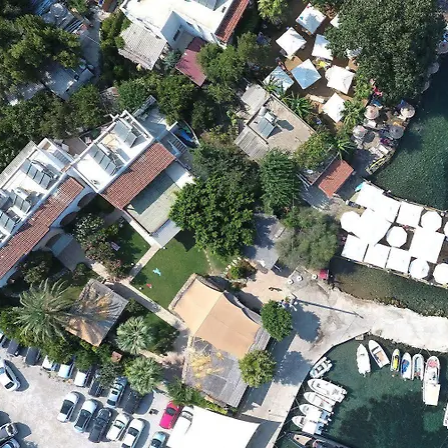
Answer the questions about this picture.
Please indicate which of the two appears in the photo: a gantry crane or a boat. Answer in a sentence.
The image shows a boat.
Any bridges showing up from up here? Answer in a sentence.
No, there is no bridge in the image.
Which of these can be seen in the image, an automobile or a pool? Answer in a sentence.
There is an automobile in the scene.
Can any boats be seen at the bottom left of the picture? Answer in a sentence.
No, there is no boat at the bottom left of the picture.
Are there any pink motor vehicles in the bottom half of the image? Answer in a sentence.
Yes, a pink motor vehicle can be seen in the bottom half of the image.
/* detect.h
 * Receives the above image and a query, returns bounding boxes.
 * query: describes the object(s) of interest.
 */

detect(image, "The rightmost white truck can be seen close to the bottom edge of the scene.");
[163,405,192,448]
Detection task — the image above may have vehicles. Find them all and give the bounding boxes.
[122,416,146,448]
[73,359,95,388]
[120,382,146,418]
[76,397,100,432]
[58,388,82,422]
[0,422,21,441]
[159,401,181,430]
[148,429,168,448]
[108,411,131,443]
[24,332,48,367]
[0,358,21,390]
[148,408,160,416]
[90,406,114,442]
[41,350,62,374]
[57,354,77,382]
[5,334,27,358]
[0,319,12,343]
[87,363,112,397]
[163,405,192,448]
[105,373,130,408]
